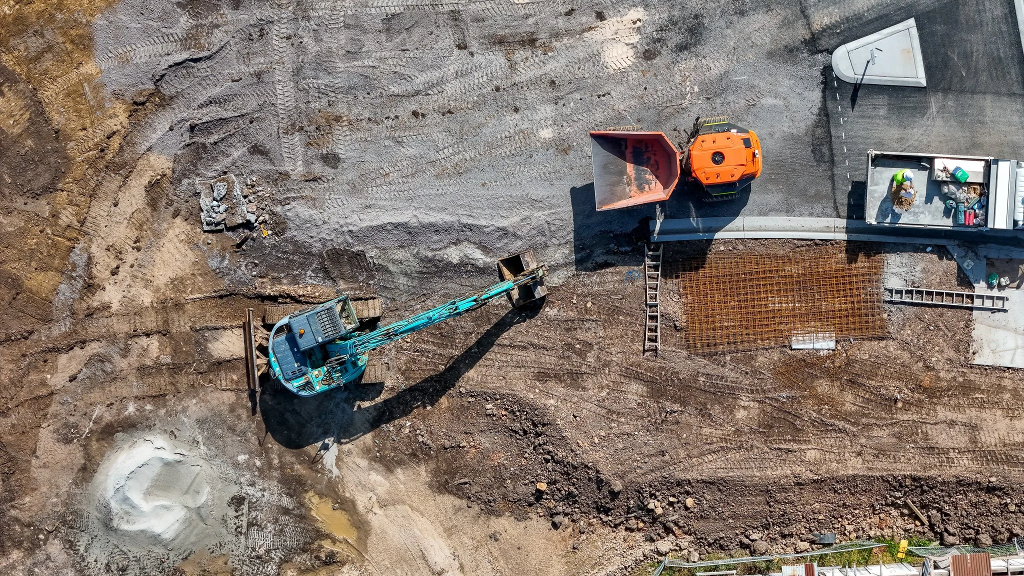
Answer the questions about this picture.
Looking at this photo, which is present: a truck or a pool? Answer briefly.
truck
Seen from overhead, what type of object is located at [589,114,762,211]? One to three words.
truck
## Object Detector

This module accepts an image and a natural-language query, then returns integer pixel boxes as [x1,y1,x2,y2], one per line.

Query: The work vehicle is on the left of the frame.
[243,246,555,398]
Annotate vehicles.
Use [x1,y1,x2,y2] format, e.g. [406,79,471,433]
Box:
[589,114,762,211]
[863,149,1024,233]
[243,246,555,398]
